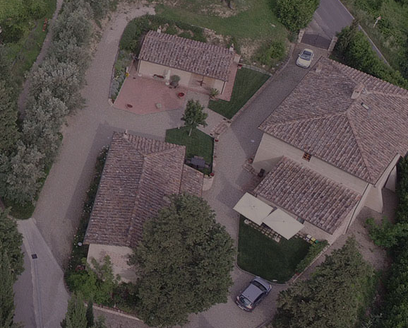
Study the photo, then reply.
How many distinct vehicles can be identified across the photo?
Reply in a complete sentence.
The photo contains 2 vehicles.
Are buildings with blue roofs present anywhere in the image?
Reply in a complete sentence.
No, I can't see a single building with a blue roof in this photo.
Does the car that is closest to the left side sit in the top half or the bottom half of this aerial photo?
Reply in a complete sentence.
The car that is closest to the left side is in the bottom half of the image.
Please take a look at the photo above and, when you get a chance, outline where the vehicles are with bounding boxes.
[297,42,316,65]
[234,274,276,309]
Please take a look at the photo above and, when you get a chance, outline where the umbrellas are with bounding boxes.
[262,209,302,242]
[234,194,272,228]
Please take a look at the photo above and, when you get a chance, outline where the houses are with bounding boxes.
[253,55,408,248]
[83,127,208,276]
[138,24,235,93]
